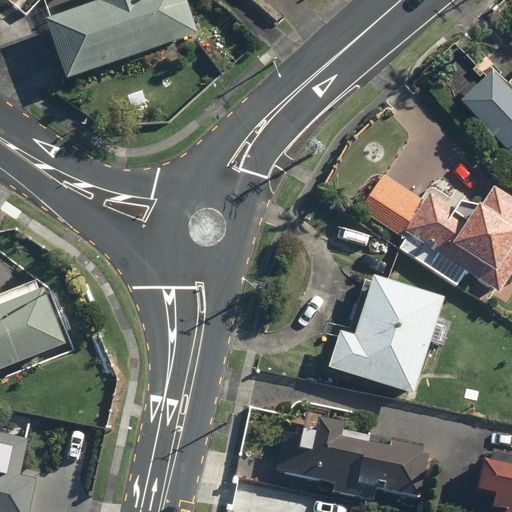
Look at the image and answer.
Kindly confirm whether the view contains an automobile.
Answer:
Yes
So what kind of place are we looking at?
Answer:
residential area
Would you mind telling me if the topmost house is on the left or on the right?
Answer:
left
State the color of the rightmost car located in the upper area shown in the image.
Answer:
red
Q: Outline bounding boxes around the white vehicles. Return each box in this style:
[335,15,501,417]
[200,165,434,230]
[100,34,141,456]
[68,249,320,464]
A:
[492,433,512,446]
[313,500,346,512]
[68,428,86,462]
[298,296,324,326]
[336,227,373,248]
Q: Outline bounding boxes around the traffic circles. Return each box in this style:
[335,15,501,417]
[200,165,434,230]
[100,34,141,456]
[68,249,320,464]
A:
[188,208,226,246]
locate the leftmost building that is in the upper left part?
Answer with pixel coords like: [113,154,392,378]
[46,0,198,79]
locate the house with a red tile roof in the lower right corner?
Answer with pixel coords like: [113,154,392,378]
[478,452,512,510]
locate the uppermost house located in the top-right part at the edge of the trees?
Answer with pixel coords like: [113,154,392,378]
[460,69,512,152]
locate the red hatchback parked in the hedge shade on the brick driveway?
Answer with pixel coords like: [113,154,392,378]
[454,163,476,188]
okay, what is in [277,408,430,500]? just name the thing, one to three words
house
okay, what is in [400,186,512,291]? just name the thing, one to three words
house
